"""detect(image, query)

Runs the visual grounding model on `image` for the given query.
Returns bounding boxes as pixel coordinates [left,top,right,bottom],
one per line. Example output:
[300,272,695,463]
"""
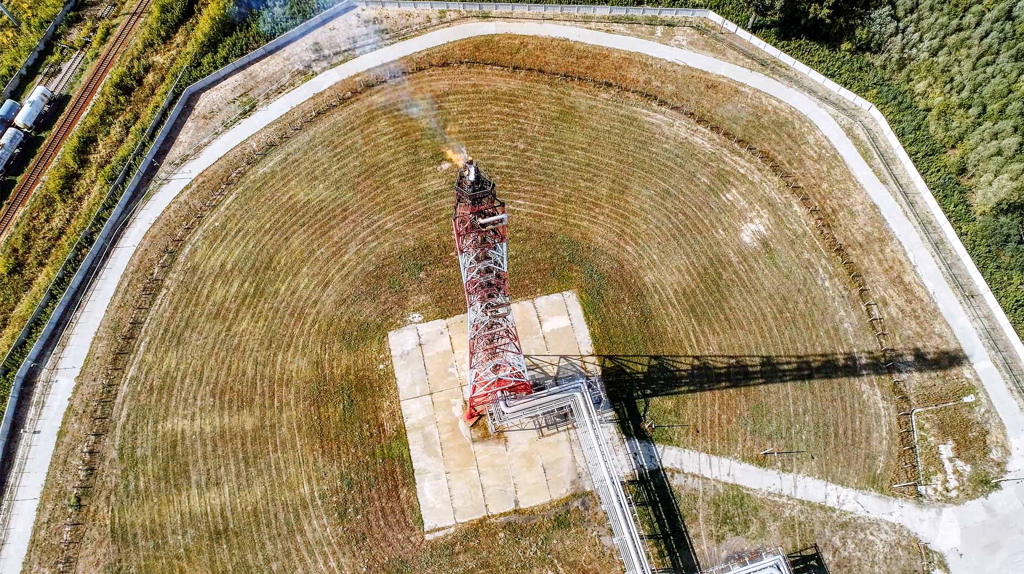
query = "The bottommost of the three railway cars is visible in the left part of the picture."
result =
[0,128,28,177]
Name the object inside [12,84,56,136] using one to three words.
rail car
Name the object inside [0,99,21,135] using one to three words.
rail car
